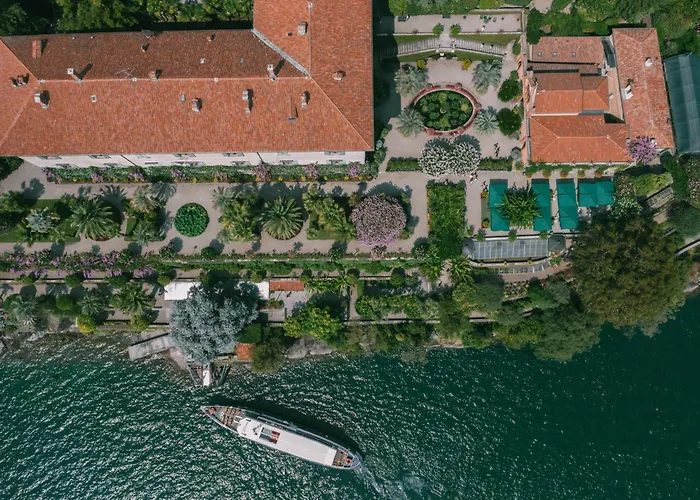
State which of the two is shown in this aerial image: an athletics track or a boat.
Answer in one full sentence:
Looking from above, you can make out a boat.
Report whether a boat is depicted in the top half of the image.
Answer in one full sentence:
No, there's no boat to be seen in the top half of the image.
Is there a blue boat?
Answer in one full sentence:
No, no blue boat is visible in the view.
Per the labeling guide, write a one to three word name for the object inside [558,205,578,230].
umbrella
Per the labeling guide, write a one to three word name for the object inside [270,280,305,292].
shed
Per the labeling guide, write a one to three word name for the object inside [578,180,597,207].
umbrella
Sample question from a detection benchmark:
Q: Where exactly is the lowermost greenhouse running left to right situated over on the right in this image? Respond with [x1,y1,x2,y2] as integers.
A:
[468,239,550,263]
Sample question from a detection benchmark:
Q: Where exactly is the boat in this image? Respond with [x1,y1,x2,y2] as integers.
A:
[199,405,364,475]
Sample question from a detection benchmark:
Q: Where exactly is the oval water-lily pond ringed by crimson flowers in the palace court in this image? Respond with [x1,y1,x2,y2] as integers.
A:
[415,84,479,135]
